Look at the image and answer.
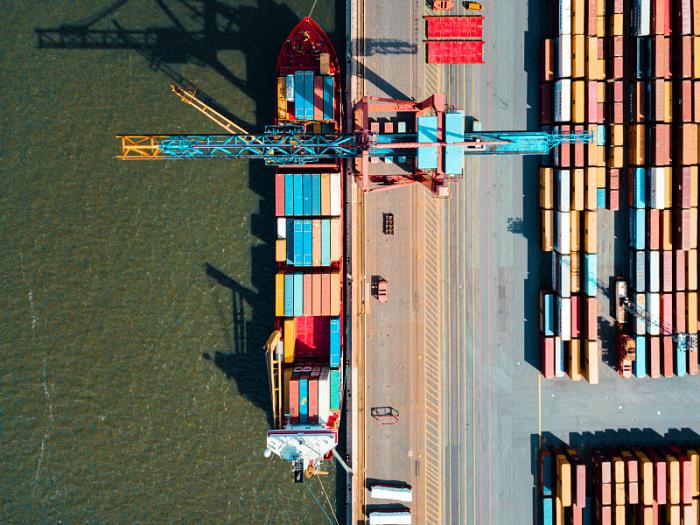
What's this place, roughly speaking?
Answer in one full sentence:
What you see here is a port.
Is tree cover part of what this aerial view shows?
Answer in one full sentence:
No, there is no tree cover in the image.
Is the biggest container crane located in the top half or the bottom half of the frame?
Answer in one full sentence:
It is in the top half that the biggest container crane appears.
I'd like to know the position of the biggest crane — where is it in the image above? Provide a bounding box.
[111,94,597,204]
